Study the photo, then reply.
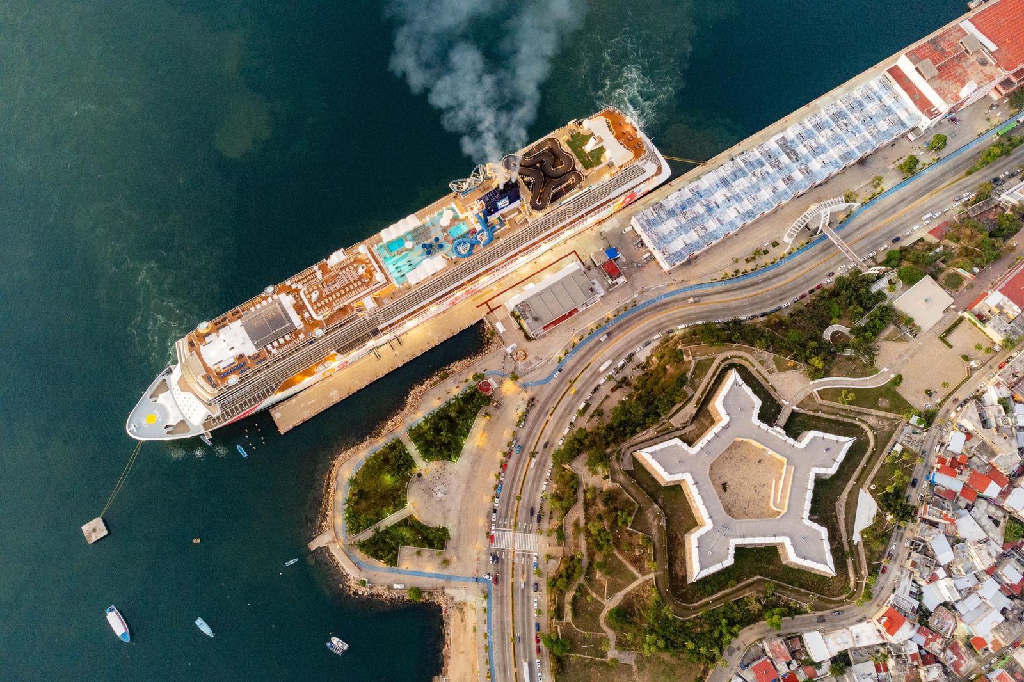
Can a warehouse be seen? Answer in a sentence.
Yes, the photo shows a warehouse.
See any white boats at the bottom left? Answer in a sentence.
Yes, a white boat can be seen at the bottom left.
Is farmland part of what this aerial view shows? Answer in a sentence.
No, the scene doesn't show any farmland.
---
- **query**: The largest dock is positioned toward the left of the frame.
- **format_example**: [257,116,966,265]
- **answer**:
[269,291,484,435]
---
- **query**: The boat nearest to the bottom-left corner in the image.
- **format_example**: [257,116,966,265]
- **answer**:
[105,605,128,642]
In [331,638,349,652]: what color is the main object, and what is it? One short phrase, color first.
white boat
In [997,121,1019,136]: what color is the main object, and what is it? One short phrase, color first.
green vehicle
